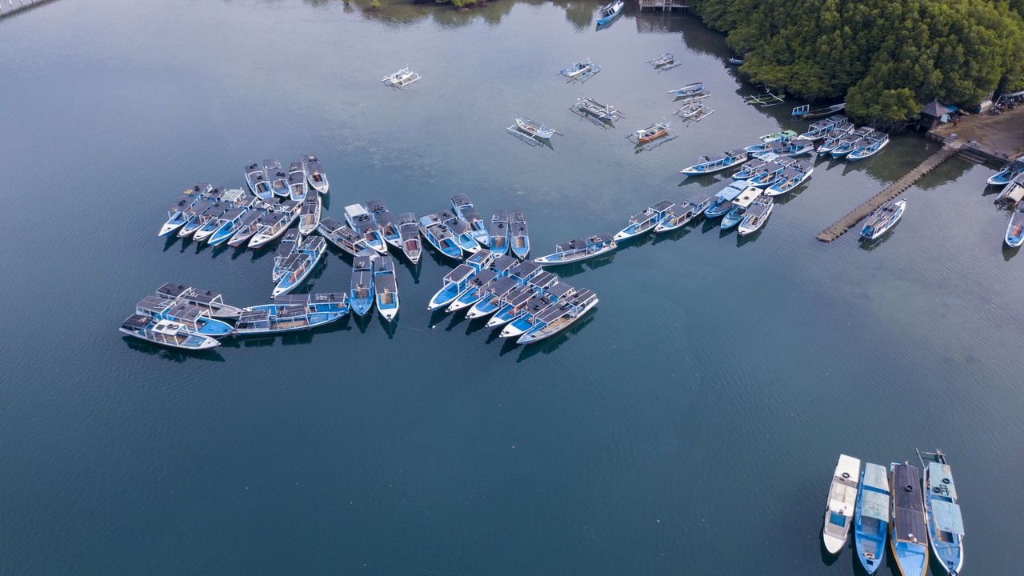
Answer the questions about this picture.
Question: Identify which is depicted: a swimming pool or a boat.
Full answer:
It is a boat that can be seen here.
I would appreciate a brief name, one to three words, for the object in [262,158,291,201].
boat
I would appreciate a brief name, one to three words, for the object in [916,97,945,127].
shed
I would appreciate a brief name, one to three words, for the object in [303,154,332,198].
boat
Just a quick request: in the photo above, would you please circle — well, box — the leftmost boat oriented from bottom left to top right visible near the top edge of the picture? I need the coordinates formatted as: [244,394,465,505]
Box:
[597,0,625,26]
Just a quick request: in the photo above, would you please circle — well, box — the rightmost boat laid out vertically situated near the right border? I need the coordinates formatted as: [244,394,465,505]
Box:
[1004,200,1024,250]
